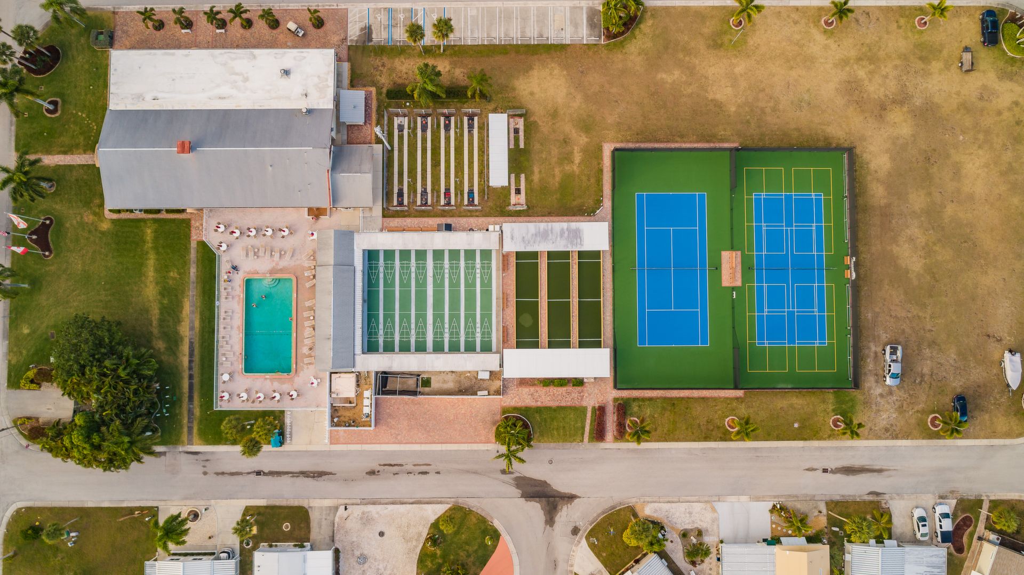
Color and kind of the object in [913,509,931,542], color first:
white car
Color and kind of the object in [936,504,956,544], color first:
white vehicle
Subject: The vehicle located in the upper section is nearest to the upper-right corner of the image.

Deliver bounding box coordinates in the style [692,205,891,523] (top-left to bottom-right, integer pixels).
[984,8,1004,46]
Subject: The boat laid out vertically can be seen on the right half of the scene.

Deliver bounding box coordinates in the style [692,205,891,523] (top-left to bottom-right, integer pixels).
[1003,345,1023,389]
